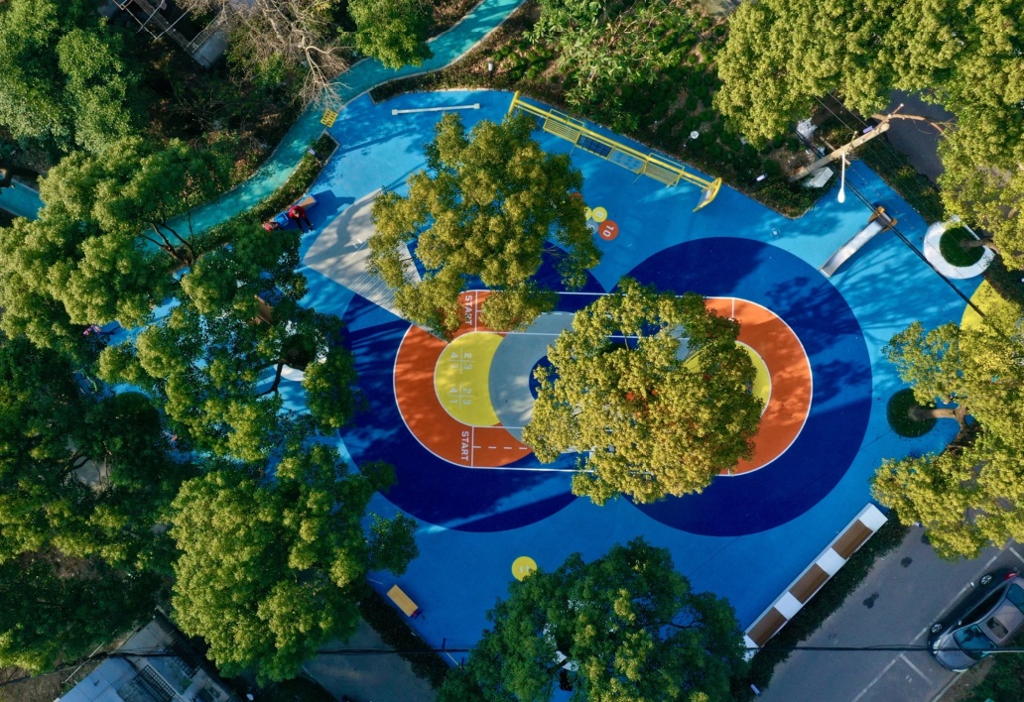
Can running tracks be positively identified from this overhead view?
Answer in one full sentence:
Yes, there's a running track here.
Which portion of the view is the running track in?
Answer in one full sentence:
The running track is in the center part of the image.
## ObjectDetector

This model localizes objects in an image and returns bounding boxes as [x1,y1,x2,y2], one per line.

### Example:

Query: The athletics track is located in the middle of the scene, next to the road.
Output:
[341,233,874,537]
